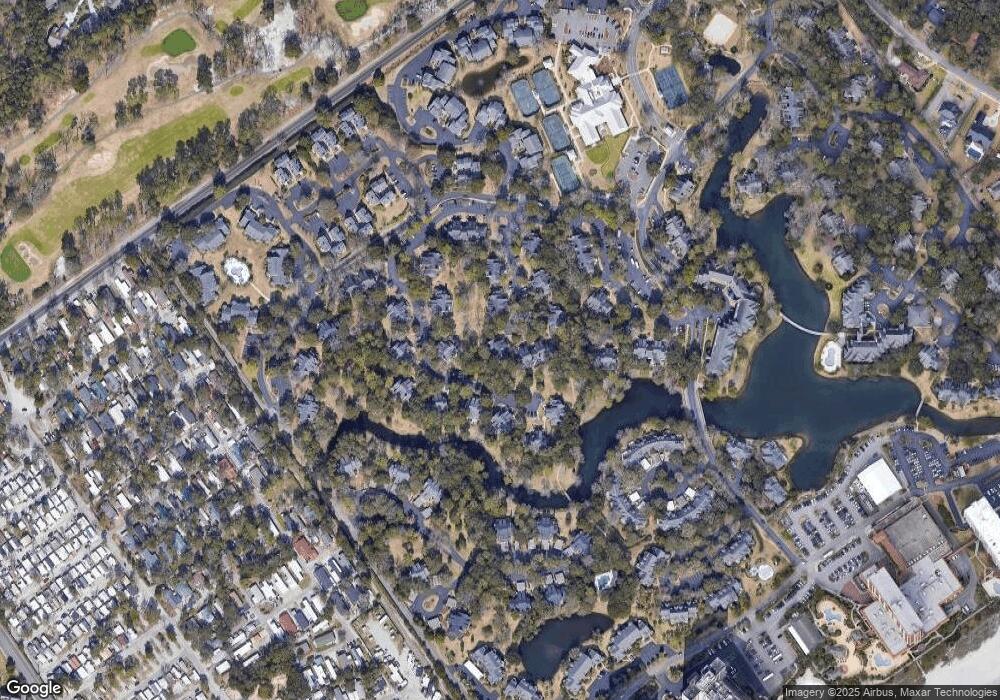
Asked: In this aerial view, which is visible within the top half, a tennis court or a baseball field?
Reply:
tennis court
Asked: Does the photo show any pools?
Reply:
Yes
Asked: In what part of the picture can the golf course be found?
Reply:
top left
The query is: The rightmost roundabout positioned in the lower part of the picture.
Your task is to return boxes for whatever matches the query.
[640,464,689,499]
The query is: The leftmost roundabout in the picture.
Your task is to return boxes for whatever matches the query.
[412,585,450,618]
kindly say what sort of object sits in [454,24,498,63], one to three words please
house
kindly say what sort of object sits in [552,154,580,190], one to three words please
tennis court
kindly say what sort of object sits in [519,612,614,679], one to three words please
pond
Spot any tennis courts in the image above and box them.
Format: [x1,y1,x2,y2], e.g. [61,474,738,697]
[531,67,562,105]
[552,154,580,190]
[542,112,571,149]
[654,65,688,107]
[511,77,539,116]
